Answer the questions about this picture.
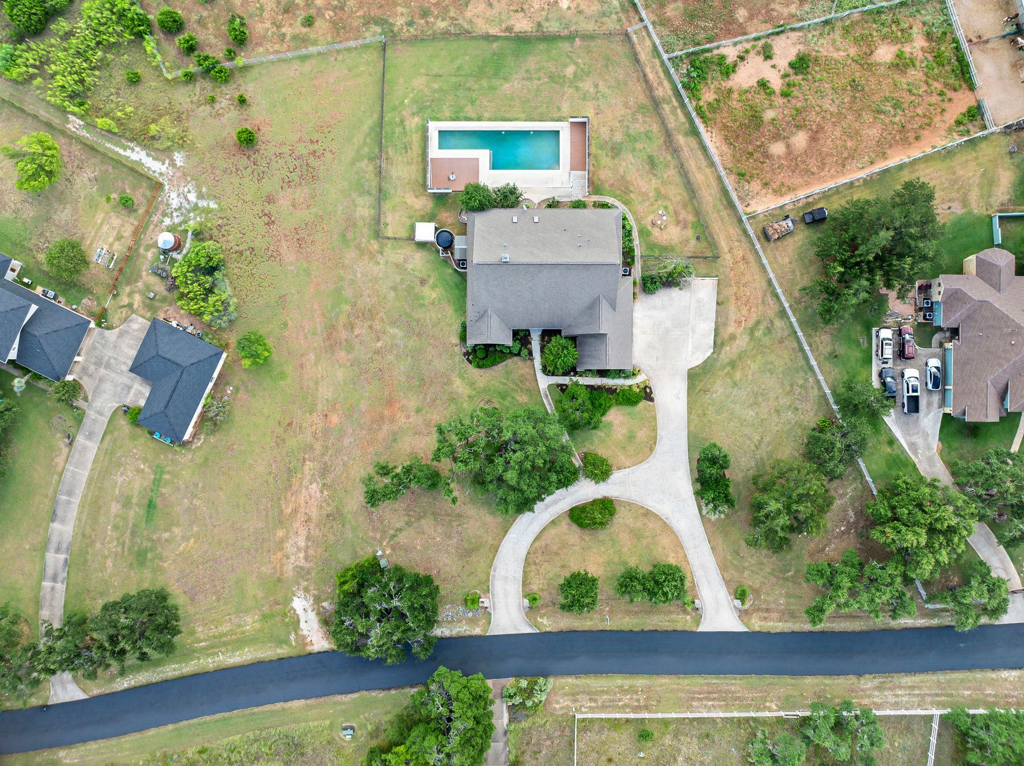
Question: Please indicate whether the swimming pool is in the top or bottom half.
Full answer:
It is in the top half that the swimming pool appears.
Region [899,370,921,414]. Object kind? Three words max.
truck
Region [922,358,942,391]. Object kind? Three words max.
car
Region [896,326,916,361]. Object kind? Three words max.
car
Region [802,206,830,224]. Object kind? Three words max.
vehicle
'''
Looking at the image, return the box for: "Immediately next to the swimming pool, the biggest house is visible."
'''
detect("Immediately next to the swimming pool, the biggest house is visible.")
[467,204,633,370]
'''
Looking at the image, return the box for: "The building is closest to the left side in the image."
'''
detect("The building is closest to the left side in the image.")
[0,253,100,382]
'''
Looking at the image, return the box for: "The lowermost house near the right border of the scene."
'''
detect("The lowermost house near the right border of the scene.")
[928,247,1024,422]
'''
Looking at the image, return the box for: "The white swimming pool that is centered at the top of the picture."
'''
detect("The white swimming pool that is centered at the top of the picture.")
[426,113,592,207]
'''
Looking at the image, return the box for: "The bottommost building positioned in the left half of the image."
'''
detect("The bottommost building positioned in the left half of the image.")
[128,318,231,444]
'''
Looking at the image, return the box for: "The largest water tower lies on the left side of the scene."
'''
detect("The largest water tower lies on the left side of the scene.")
[154,228,188,255]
